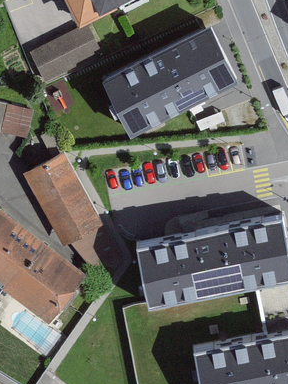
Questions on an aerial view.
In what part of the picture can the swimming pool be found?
bottom left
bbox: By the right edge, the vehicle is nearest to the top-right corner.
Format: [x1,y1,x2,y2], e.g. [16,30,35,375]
[269,84,288,119]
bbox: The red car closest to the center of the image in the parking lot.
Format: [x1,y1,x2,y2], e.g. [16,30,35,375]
[143,162,155,183]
